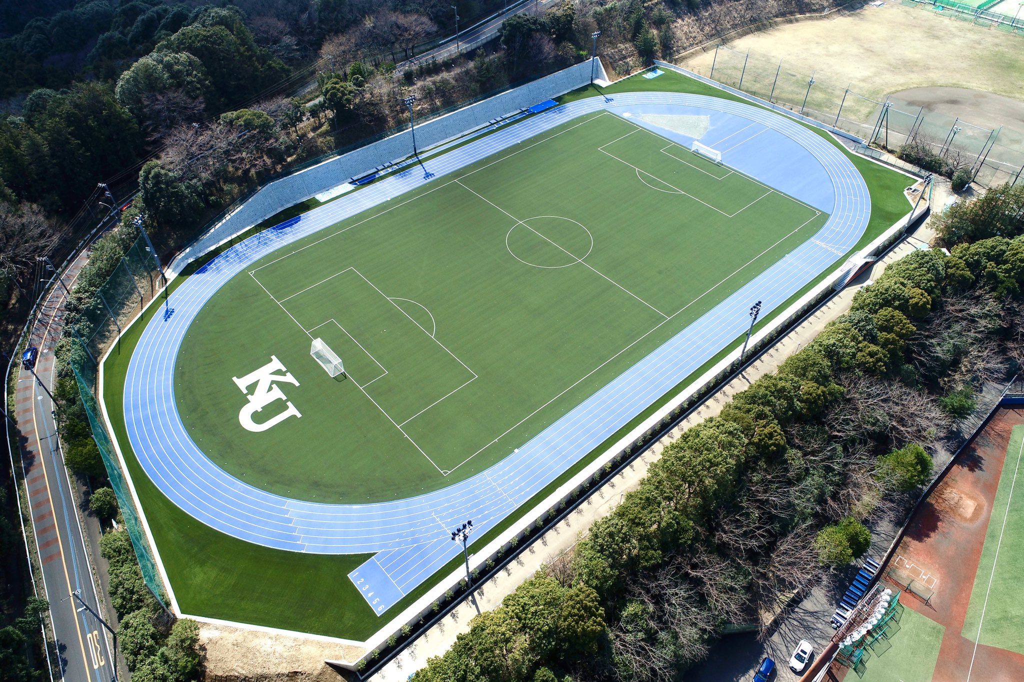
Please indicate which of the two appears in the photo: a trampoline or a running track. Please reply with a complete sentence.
Visible in the photo is a running track.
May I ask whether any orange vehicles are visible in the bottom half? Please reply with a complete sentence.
No, no orange vehicle is visible in the bottom half.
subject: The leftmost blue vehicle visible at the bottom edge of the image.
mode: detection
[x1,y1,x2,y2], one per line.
[753,655,775,682]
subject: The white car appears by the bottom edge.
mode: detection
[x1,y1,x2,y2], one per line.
[789,638,813,673]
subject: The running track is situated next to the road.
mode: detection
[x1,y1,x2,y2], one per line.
[125,92,870,616]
